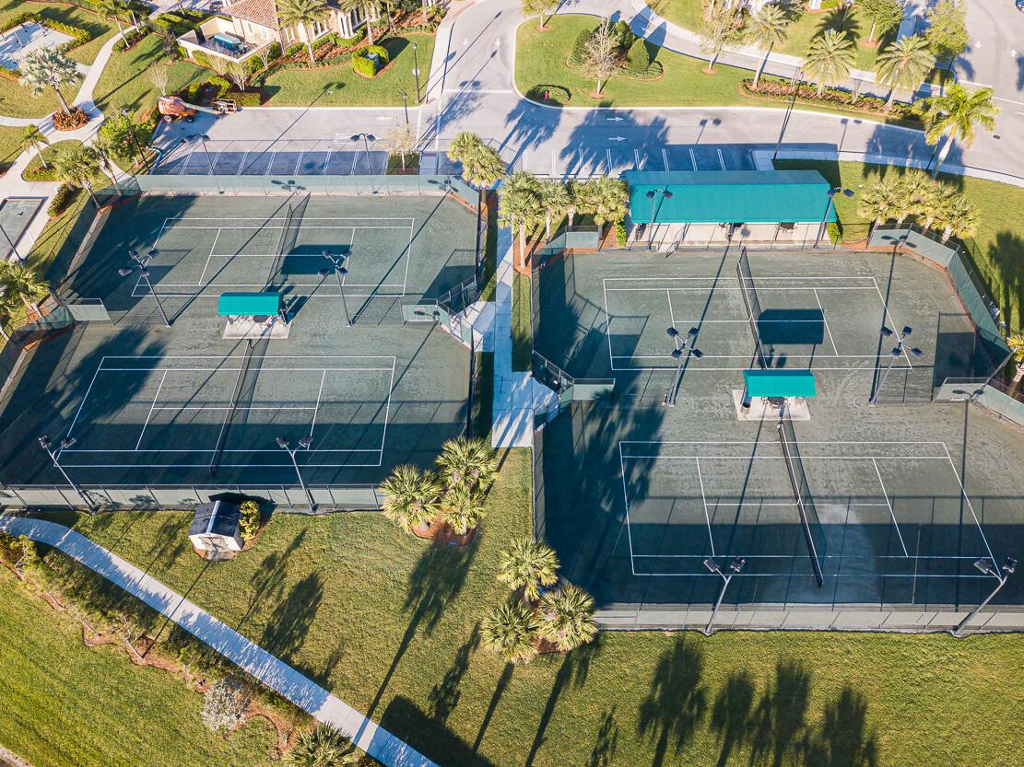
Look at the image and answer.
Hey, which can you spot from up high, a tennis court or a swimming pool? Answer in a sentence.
Of the two, only a tennis court appears.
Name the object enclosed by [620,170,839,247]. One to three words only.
building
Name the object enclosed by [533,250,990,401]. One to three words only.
tennis court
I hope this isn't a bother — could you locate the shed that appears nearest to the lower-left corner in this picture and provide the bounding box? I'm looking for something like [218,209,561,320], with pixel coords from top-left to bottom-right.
[183,499,245,567]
